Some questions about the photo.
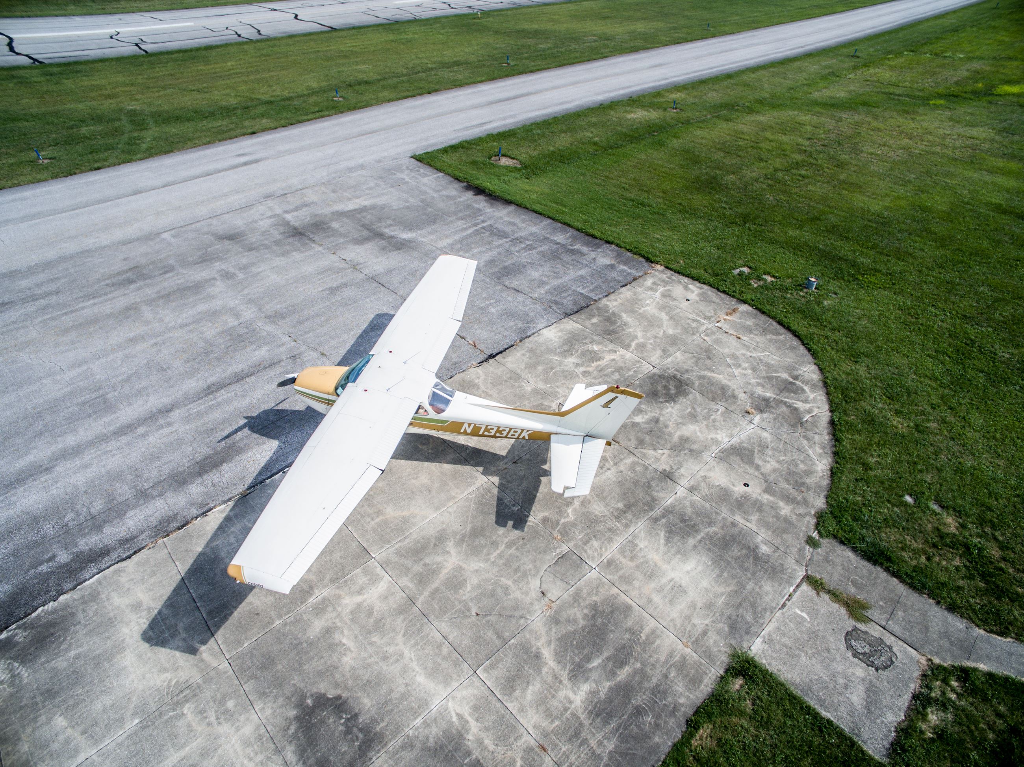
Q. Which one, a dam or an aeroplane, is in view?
aeroplane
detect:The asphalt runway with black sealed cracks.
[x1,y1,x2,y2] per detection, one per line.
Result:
[0,0,581,68]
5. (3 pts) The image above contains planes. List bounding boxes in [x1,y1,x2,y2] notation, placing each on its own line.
[228,252,643,597]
